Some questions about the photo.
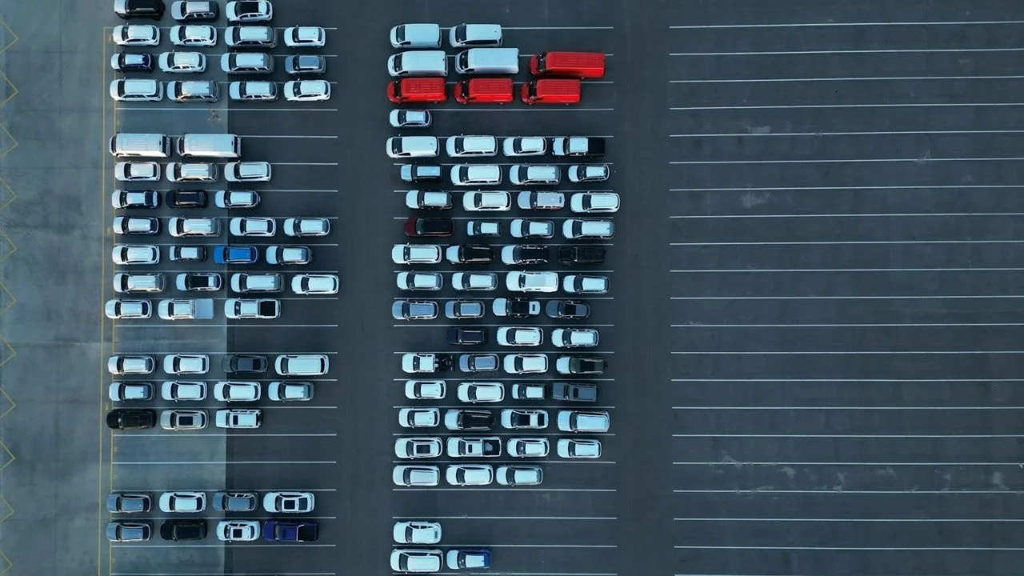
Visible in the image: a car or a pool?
car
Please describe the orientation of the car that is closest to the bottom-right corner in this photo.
from side to side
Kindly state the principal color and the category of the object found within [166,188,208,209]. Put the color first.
black car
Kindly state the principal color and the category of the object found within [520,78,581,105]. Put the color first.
red vehicle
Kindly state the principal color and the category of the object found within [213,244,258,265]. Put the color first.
blue car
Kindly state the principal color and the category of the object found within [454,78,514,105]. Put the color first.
red vehicle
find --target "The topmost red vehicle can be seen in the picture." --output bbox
[529,52,605,79]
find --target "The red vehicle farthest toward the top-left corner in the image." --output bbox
[387,78,447,104]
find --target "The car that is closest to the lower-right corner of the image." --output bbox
[557,438,602,461]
